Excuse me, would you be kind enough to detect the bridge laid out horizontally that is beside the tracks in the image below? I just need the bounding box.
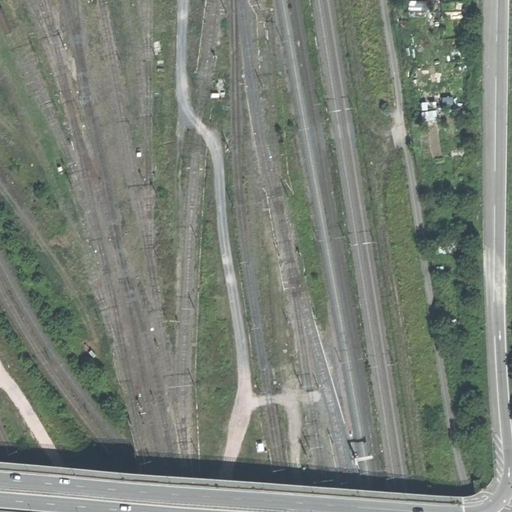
[0,462,474,512]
